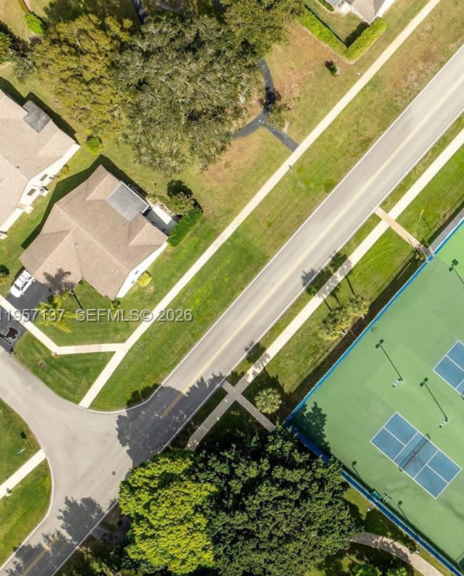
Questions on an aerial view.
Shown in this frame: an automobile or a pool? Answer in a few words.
automobile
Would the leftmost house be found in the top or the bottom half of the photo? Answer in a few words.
top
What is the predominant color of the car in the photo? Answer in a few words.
white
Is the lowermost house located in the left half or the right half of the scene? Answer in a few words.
left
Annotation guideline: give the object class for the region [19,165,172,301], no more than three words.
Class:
house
